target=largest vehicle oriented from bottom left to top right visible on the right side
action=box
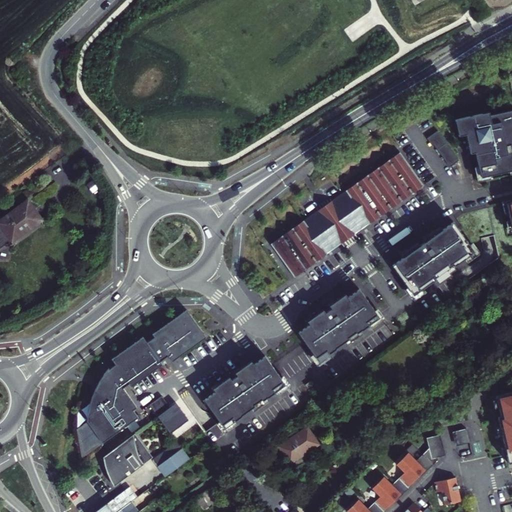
[388,228,412,246]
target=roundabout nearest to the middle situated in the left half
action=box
[130,194,223,290]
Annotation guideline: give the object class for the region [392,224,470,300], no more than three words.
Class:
building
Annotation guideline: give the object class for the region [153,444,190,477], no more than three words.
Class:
shed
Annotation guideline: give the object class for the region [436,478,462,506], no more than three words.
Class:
house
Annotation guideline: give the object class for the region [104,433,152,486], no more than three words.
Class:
building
